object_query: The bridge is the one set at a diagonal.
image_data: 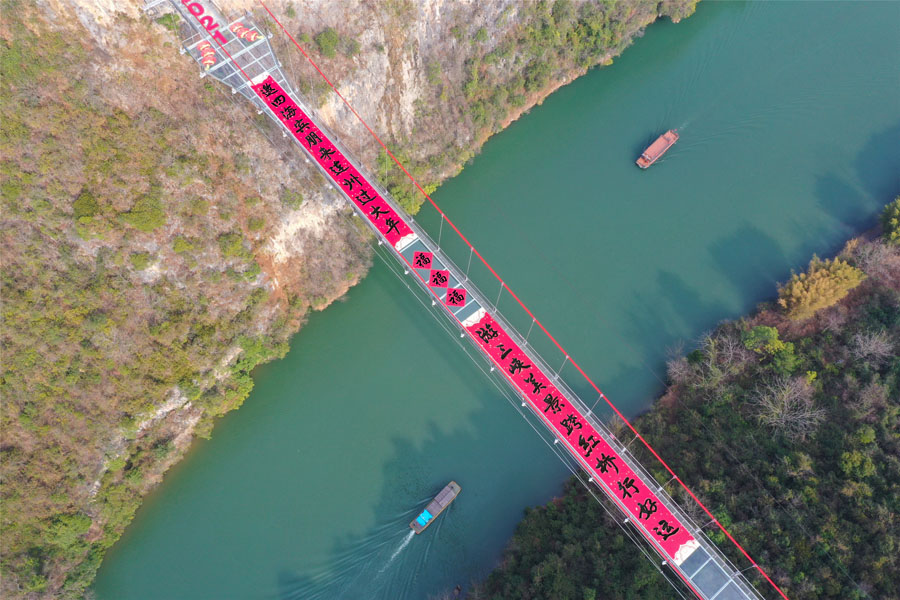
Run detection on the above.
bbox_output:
[170,0,788,600]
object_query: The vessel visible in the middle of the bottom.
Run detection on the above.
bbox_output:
[410,481,461,534]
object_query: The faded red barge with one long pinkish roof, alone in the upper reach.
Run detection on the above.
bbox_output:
[638,128,679,168]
